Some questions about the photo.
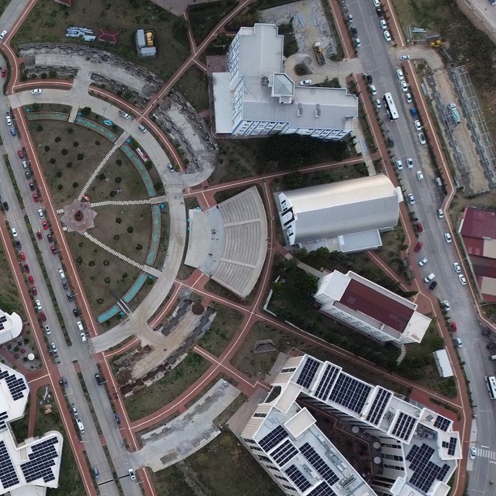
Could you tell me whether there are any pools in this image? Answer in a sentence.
Yes, there is a pool in the image.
